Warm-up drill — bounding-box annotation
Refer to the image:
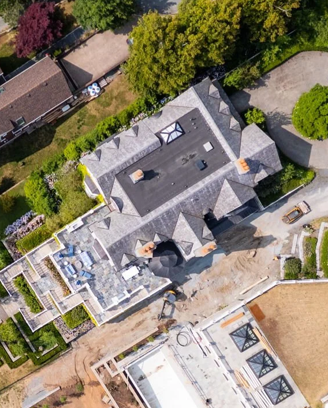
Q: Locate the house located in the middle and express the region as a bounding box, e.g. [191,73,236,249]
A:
[79,77,283,287]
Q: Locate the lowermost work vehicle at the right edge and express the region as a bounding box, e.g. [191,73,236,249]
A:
[283,200,313,224]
